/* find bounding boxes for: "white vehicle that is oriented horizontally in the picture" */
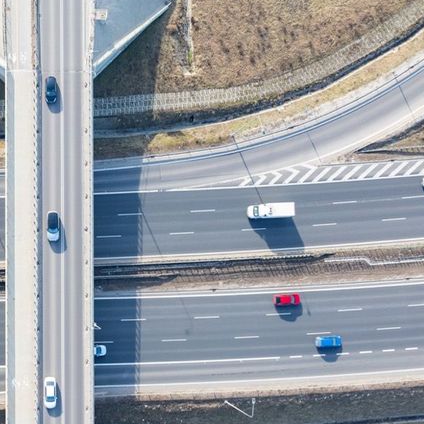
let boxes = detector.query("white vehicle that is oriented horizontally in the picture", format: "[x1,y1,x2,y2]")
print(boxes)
[244,202,298,218]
